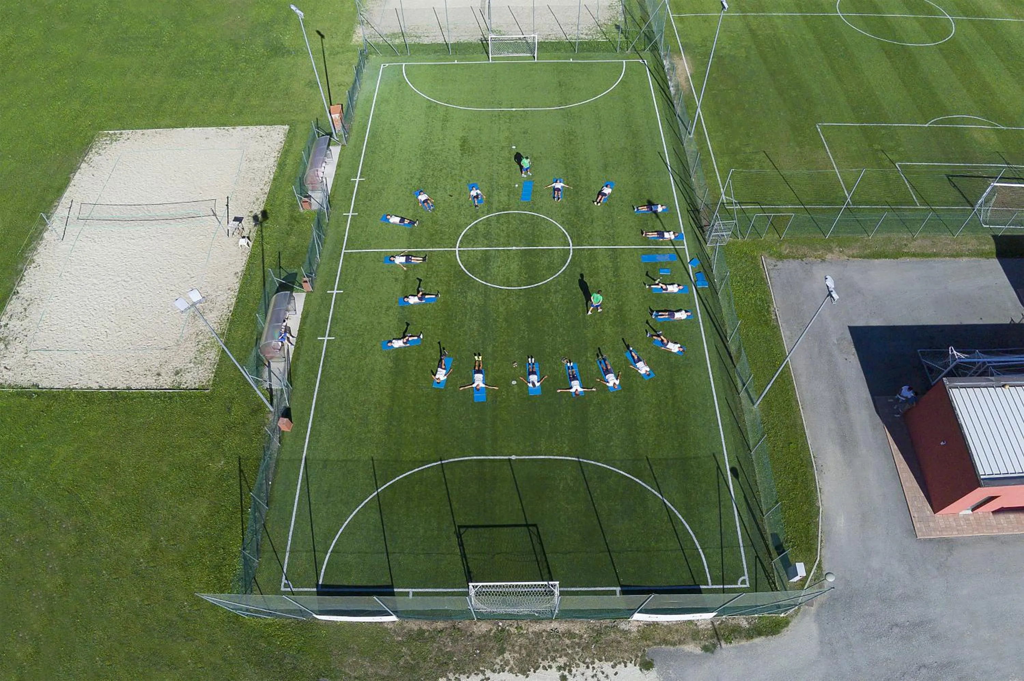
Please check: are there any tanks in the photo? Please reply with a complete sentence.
No, this view has no tank in it.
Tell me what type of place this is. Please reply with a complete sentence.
What you see here is a sports ground.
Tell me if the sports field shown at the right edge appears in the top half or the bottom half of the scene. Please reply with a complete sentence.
You can find the sports field shown at the right edge in the top half.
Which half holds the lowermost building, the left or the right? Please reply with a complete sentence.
You can find the lowermost building on the right side of the picture.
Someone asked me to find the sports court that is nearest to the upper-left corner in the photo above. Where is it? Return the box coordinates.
[0,124,289,392]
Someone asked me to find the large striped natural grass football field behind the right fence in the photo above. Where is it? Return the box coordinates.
[652,0,1024,240]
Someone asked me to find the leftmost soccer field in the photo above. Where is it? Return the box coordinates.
[247,56,783,616]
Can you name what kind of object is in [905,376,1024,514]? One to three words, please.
building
